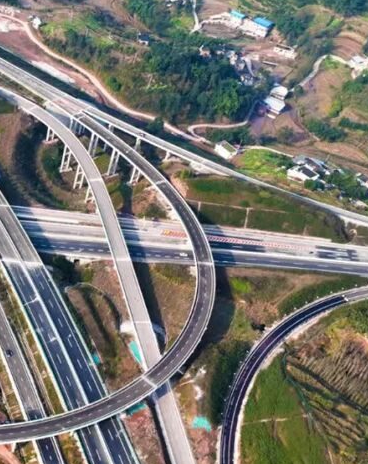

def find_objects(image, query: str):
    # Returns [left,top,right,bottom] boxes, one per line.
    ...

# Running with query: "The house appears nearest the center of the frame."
[211,141,240,161]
